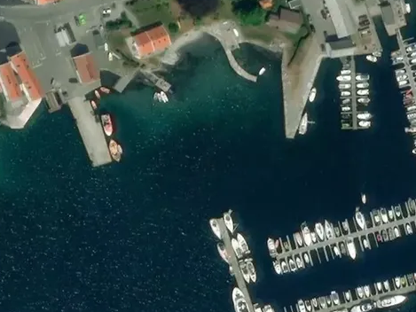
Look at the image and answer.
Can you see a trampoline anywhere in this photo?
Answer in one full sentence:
No, I find no trampoline anywhere in the image.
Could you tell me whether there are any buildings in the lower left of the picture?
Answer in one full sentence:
No, looking in the lower left of the picture, there is no building.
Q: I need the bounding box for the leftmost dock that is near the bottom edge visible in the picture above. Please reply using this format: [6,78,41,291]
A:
[214,217,254,312]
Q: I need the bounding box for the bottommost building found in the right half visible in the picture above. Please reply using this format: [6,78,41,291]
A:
[324,37,358,58]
